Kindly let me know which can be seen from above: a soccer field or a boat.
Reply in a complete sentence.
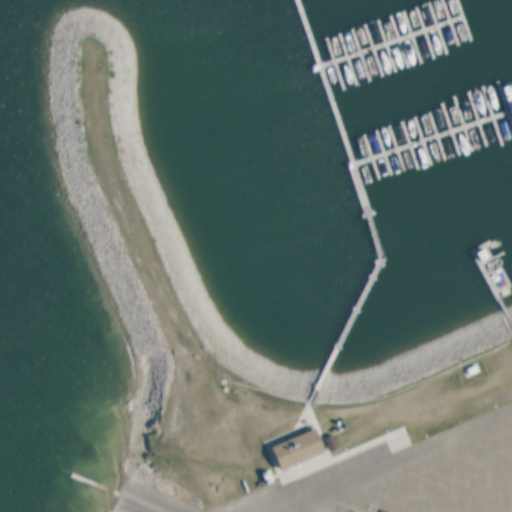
Visible in the photo is a boat.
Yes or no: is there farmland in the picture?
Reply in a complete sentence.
No, no farmland is visible.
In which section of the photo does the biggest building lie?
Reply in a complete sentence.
The biggest building is located in the bottom region of the scene.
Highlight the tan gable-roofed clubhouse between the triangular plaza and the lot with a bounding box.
[272,431,325,471]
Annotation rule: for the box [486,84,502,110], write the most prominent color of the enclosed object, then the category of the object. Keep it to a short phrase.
white boat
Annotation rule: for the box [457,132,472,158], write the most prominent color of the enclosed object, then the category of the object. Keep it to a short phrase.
white boat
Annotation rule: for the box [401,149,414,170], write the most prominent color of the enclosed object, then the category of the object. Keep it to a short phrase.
gray boat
